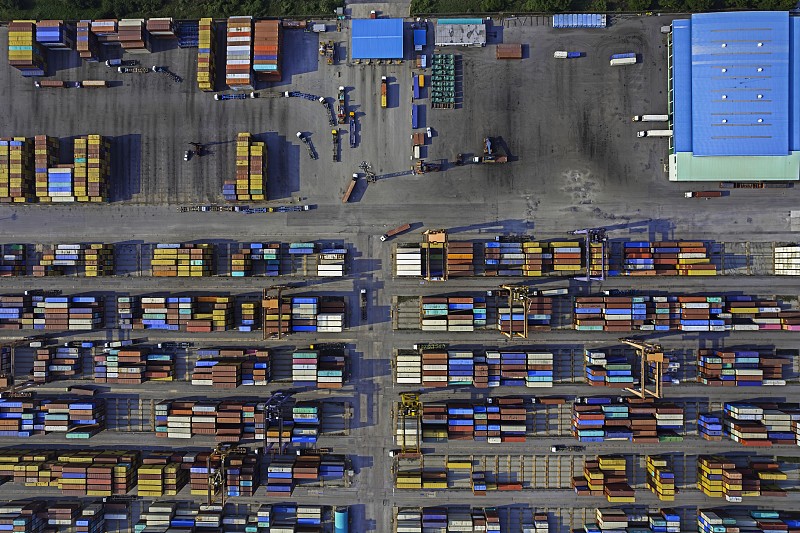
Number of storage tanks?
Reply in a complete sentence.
No storage tanks are visible.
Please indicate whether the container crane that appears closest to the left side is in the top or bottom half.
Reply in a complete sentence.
You can find the container crane that appears closest to the left side in the bottom half.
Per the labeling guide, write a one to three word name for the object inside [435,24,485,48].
building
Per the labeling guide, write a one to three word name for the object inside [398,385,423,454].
container crane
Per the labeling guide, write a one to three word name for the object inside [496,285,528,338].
container crane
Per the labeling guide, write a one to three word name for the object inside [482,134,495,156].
vehicle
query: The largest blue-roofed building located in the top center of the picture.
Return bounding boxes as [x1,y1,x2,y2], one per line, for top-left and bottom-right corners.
[352,19,403,64]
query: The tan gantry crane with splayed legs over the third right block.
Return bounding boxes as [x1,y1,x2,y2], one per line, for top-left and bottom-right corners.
[618,341,664,398]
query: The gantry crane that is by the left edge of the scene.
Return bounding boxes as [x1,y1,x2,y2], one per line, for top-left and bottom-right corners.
[0,339,49,392]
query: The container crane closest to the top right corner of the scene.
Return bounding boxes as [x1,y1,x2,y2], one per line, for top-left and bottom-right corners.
[568,230,606,281]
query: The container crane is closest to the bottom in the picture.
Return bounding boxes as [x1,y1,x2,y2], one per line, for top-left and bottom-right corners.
[207,440,245,506]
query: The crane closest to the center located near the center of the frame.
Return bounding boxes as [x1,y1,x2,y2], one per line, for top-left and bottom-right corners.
[423,230,448,281]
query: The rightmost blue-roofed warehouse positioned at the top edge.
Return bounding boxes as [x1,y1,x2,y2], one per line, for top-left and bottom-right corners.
[662,11,800,184]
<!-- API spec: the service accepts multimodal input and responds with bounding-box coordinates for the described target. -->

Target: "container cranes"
[207,440,245,506]
[398,385,423,454]
[262,286,296,340]
[423,230,448,281]
[618,341,664,398]
[264,393,298,449]
[0,339,49,392]
[496,285,528,338]
[568,230,606,281]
